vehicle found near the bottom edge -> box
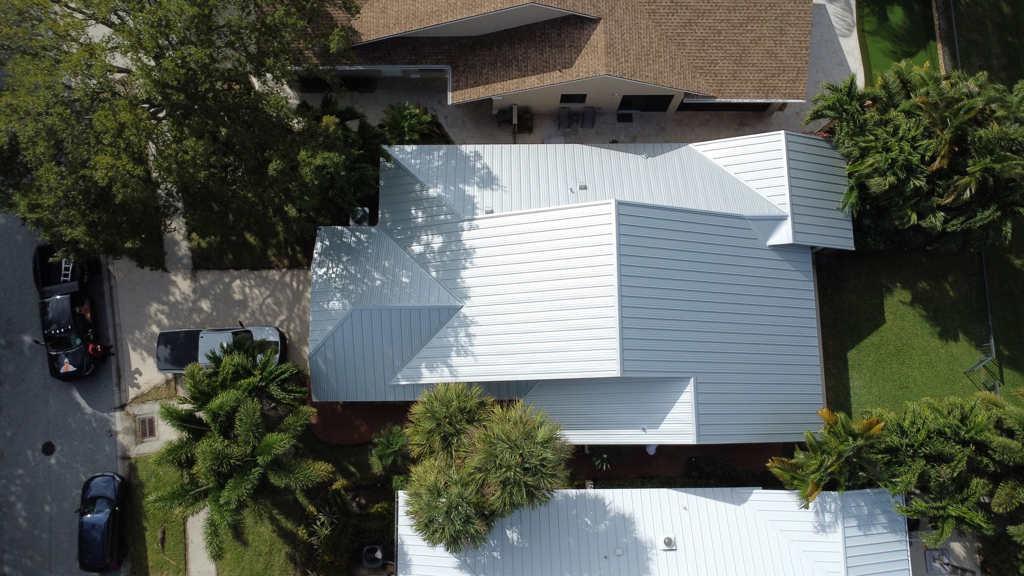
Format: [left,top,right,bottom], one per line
[70,472,130,576]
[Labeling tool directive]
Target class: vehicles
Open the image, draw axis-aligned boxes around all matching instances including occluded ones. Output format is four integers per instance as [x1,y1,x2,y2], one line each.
[29,240,101,382]
[152,320,289,380]
[70,472,130,576]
